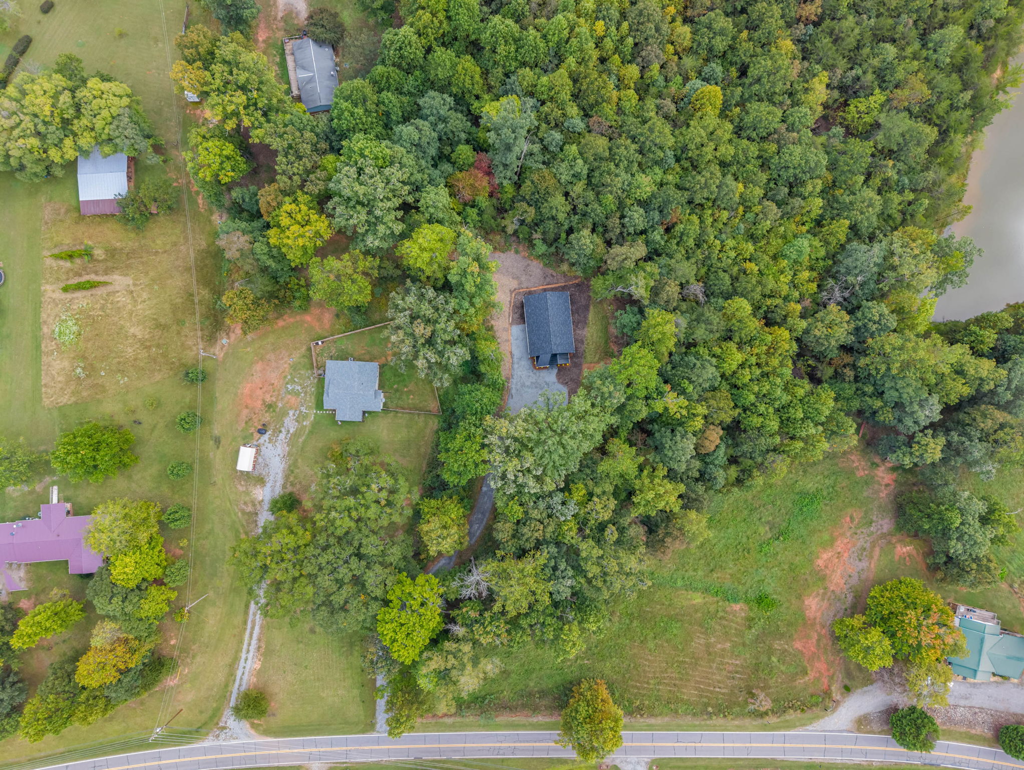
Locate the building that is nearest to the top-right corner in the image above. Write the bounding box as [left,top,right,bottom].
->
[523,291,575,368]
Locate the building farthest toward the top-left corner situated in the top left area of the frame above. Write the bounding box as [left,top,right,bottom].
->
[76,152,136,216]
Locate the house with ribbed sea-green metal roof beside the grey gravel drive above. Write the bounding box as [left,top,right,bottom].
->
[944,602,1024,683]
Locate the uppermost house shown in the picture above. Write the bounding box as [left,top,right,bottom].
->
[282,34,341,113]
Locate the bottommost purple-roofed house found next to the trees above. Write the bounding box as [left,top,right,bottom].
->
[0,502,108,592]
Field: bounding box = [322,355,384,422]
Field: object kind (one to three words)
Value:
house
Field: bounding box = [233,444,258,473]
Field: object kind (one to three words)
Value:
shed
